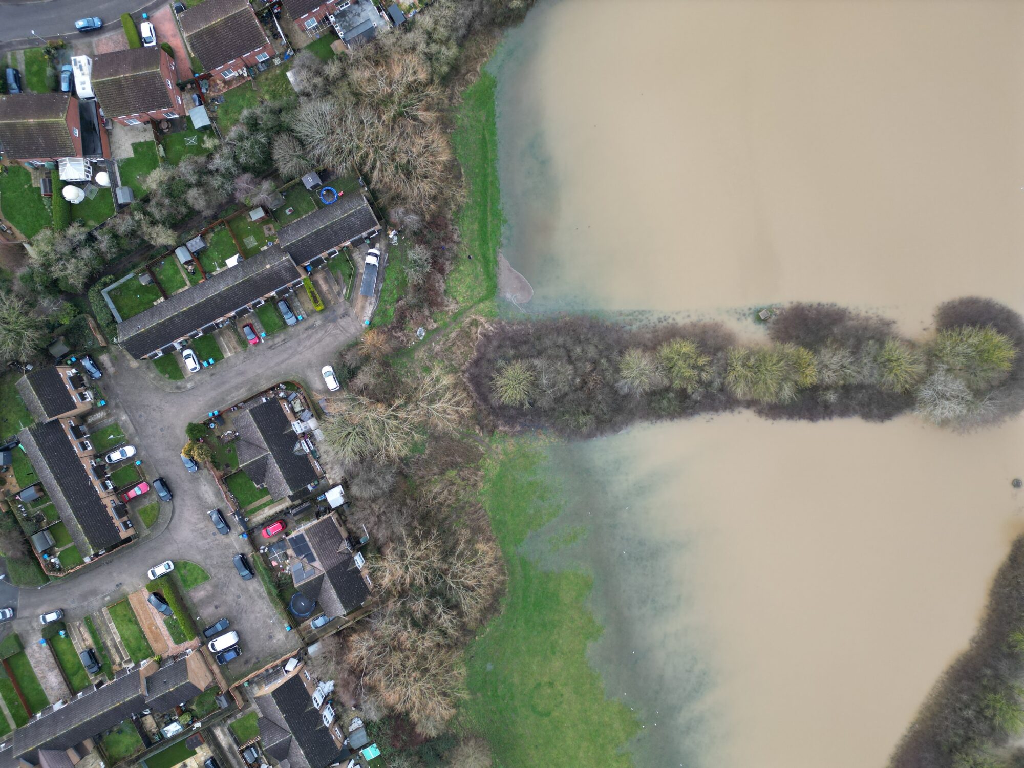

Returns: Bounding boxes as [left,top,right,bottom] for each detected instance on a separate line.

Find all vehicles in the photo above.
[231,552,255,582]
[360,249,380,297]
[0,606,16,619]
[75,16,104,32]
[79,649,102,674]
[182,347,202,374]
[60,65,75,93]
[242,322,261,346]
[208,508,231,536]
[5,67,24,95]
[81,356,103,381]
[178,452,199,474]
[148,559,176,580]
[204,754,221,768]
[40,607,66,624]
[152,477,174,503]
[147,592,174,618]
[322,365,341,392]
[141,21,158,47]
[310,614,336,631]
[276,298,298,326]
[105,444,138,465]
[261,518,288,539]
[121,482,151,504]
[72,56,100,103]
[203,616,231,640]
[207,628,241,654]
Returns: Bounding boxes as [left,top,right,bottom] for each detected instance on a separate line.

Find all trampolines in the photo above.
[287,591,317,618]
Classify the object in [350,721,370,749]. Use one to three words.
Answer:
shed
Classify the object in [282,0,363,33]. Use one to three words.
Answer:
house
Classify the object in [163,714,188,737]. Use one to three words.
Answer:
greenhouse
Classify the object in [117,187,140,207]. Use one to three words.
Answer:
shed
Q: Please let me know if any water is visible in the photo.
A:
Yes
